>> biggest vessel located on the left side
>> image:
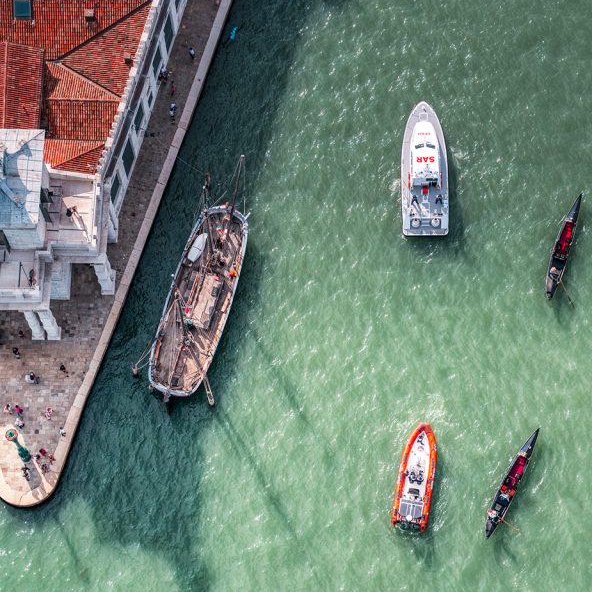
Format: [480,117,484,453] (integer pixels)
[148,154,256,410]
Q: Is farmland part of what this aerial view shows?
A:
No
